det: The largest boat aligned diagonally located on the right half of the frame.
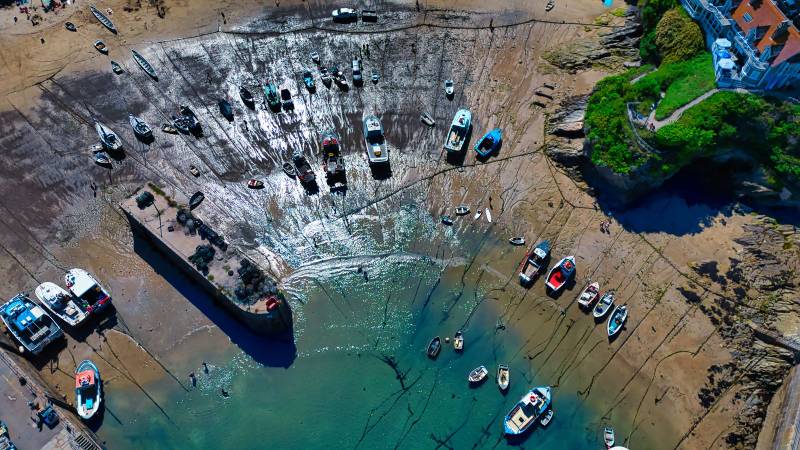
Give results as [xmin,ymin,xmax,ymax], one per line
[501,388,550,440]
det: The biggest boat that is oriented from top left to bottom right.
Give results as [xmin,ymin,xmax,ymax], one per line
[1,293,62,360]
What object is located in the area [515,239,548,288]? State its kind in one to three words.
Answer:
boat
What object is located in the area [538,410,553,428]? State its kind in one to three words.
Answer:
boat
